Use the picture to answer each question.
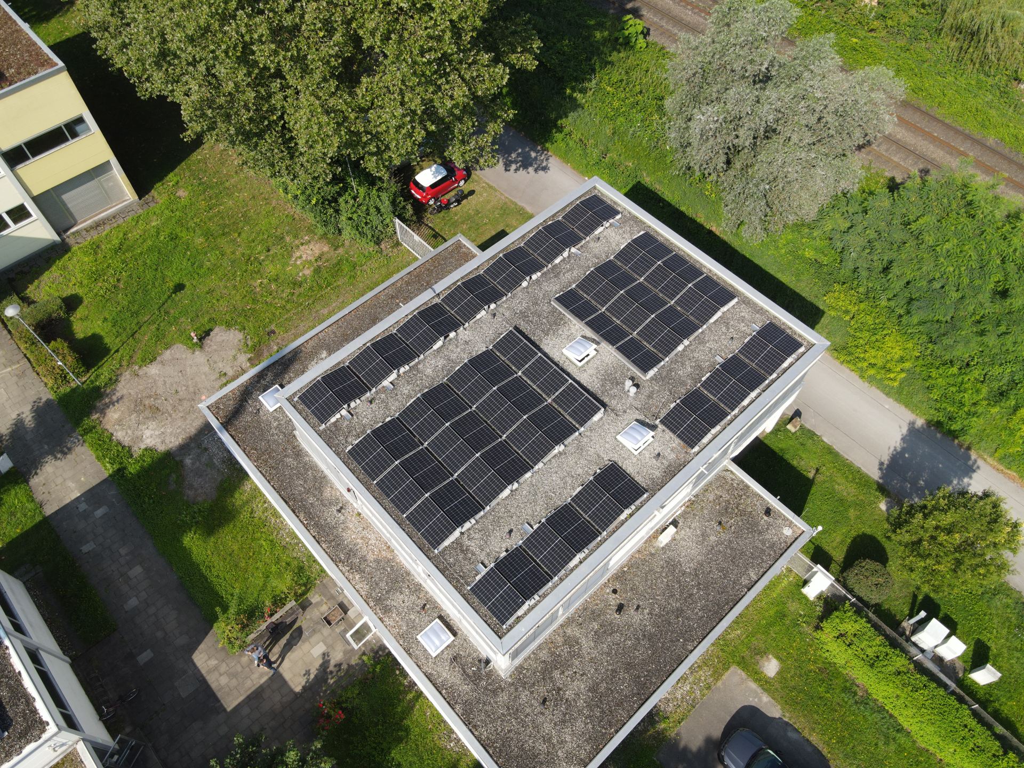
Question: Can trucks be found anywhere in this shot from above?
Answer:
No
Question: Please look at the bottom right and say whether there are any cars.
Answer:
Yes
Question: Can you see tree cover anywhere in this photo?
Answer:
Yes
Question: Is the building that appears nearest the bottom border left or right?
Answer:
left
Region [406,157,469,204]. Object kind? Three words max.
car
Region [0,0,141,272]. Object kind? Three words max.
building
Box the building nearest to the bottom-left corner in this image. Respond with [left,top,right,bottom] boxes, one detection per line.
[0,565,131,768]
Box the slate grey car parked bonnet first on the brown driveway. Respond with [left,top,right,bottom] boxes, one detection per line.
[718,724,796,768]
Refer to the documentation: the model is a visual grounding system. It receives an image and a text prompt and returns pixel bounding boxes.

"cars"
[406,157,469,204]
[718,724,796,768]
